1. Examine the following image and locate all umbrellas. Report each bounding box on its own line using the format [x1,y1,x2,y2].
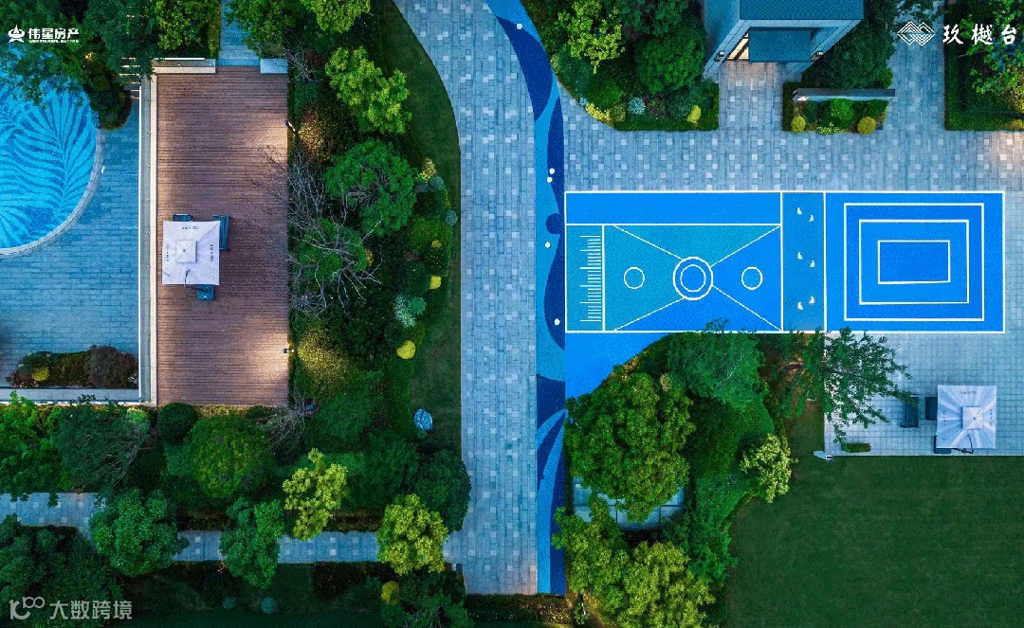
[934,386,996,453]
[161,223,222,300]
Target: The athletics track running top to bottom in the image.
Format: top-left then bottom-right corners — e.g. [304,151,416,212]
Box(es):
[487,0,565,592]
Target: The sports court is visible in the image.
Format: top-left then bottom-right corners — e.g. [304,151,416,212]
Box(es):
[565,191,1004,406]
